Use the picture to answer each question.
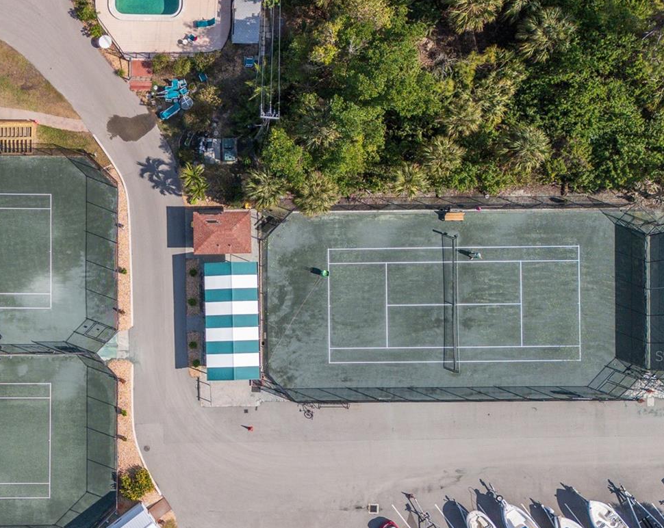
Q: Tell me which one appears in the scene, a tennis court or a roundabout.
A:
tennis court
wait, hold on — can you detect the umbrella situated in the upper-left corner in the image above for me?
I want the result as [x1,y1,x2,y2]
[98,35,111,50]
